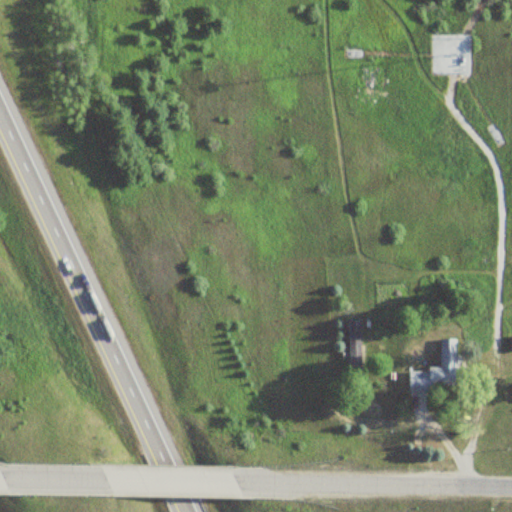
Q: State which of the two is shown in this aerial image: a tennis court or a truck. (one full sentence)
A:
It is a truck that can be seen here.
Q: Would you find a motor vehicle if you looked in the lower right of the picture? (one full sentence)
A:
No, I can find no motor vehicle in the lower right of the picture.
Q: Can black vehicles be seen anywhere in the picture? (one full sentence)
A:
No, the frame has no black vehicle in it.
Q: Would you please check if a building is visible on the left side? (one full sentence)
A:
No, on the left side there is no building.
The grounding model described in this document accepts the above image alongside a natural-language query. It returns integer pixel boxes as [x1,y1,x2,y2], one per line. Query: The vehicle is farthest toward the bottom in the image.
[78,272,114,340]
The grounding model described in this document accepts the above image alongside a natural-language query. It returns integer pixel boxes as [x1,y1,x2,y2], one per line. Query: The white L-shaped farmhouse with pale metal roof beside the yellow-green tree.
[410,338,466,392]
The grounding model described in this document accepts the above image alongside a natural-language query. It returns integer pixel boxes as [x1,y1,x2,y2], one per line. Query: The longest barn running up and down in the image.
[350,318,366,366]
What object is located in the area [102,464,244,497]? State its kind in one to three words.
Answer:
overpass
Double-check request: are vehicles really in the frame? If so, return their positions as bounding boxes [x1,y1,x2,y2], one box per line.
[62,256,72,271]
[78,272,114,340]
